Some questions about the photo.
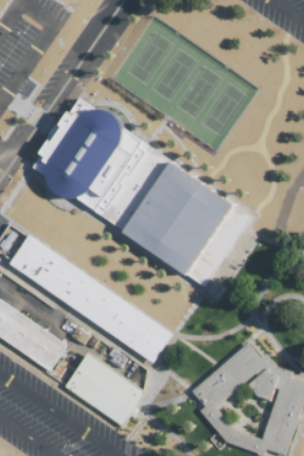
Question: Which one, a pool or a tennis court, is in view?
tennis court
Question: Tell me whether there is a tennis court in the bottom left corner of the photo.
No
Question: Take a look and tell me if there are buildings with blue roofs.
Yes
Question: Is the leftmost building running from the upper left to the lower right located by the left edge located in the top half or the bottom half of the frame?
bottom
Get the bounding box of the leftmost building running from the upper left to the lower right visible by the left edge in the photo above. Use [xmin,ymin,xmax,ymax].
[0,298,70,370]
